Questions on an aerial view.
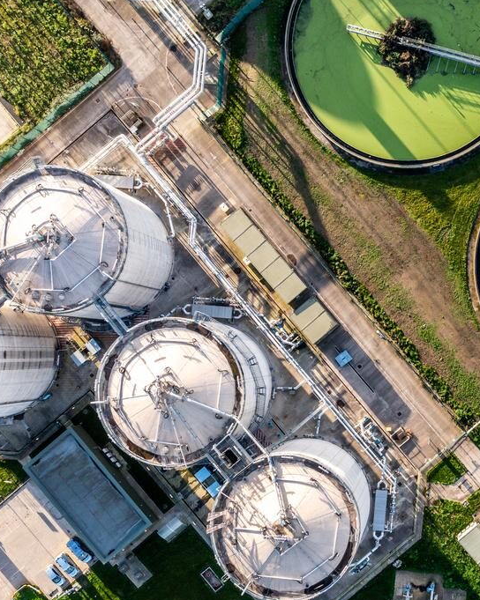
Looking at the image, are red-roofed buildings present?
No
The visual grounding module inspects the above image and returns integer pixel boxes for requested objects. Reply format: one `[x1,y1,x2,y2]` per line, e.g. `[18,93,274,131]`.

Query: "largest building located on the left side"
[23,427,160,564]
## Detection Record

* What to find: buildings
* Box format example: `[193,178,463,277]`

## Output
[221,207,309,303]
[290,296,341,343]
[456,518,480,566]
[23,427,160,564]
